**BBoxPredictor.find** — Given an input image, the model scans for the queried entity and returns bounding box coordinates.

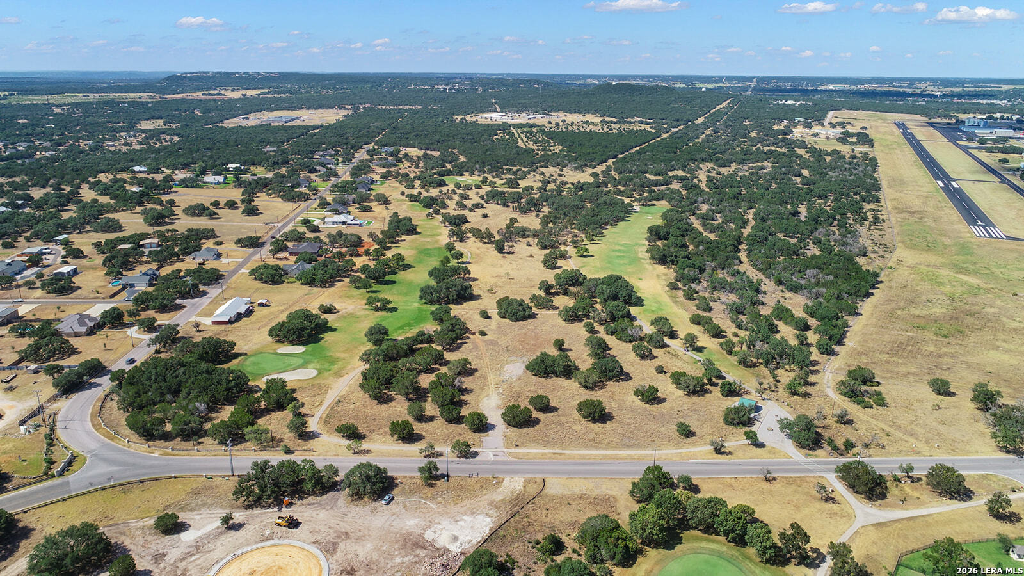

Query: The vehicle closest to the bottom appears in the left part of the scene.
[277,513,303,529]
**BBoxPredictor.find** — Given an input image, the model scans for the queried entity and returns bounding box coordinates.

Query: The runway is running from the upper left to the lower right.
[895,122,1007,239]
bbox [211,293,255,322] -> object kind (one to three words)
house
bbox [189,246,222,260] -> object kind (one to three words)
house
